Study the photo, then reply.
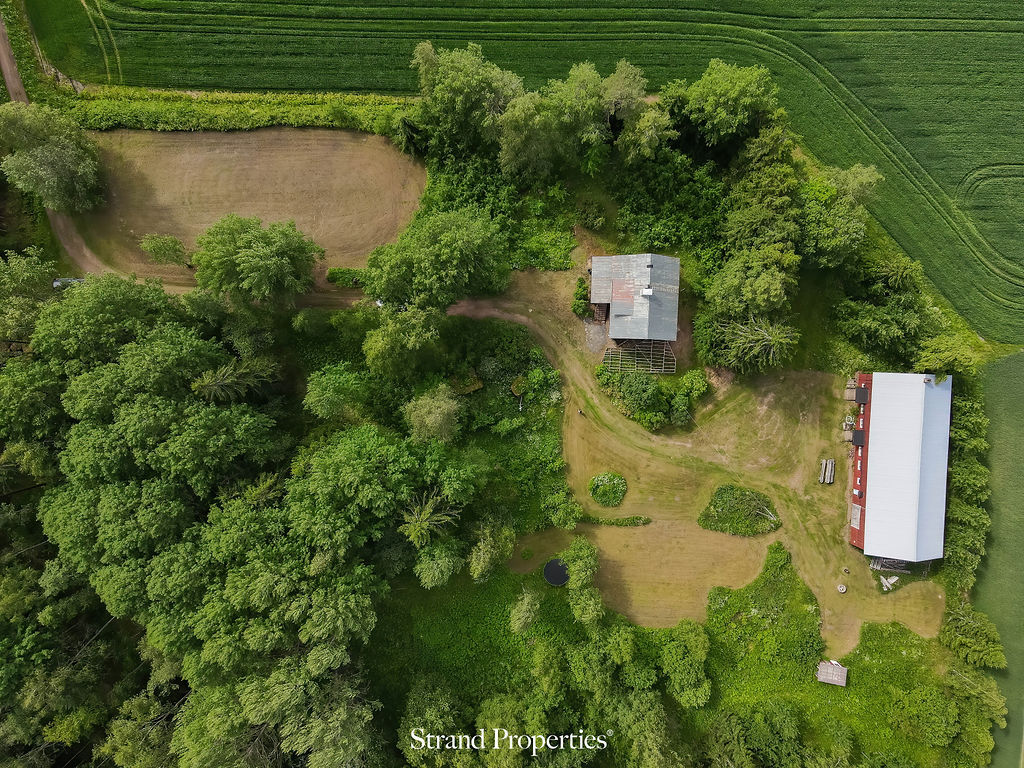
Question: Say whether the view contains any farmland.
Yes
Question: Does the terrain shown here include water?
No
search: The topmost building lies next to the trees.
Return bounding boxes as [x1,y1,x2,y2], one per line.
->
[590,253,679,342]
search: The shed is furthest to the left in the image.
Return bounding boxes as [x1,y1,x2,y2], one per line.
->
[452,372,484,394]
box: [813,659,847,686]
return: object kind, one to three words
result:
shed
